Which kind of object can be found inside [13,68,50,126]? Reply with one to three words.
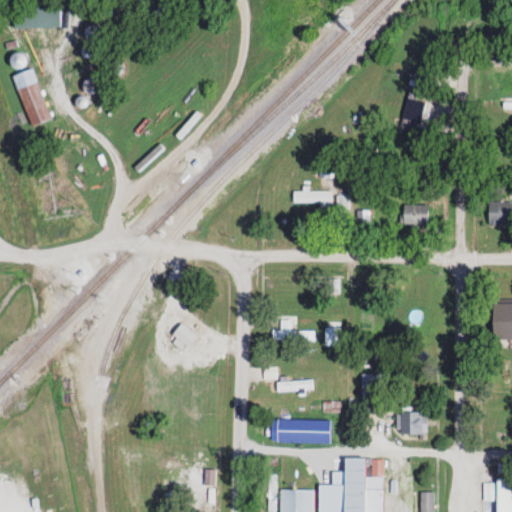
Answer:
barn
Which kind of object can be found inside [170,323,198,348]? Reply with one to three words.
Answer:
building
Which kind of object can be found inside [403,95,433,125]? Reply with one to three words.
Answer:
house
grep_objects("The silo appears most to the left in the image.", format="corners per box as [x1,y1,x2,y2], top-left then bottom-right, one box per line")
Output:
[9,51,29,71]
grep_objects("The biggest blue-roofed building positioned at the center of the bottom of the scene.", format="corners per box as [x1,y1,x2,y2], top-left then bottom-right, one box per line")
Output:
[272,419,333,445]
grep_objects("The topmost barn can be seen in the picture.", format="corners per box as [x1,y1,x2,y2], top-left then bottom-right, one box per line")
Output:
[12,7,70,28]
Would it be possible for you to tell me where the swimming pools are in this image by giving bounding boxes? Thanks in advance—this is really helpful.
[408,308,424,327]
